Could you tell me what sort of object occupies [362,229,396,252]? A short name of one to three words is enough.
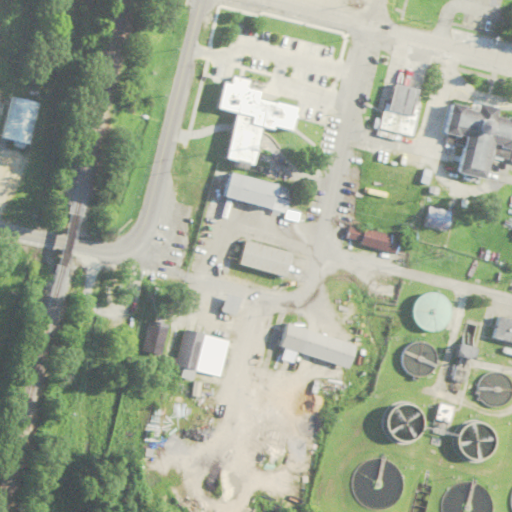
house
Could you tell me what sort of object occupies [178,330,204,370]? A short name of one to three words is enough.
shed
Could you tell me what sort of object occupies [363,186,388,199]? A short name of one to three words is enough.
vehicle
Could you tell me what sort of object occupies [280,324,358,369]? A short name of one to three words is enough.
building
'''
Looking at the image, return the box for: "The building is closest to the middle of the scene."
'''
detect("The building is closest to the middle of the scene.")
[238,242,294,278]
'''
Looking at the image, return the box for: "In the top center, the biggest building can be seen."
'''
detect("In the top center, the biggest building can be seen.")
[218,76,299,171]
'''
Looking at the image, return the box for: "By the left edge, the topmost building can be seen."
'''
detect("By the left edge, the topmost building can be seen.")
[3,98,40,144]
